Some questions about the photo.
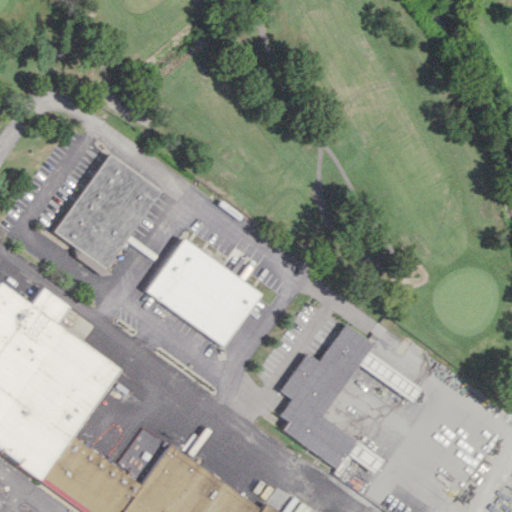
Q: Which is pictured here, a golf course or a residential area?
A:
golf course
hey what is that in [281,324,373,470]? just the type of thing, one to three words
building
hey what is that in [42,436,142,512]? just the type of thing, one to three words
building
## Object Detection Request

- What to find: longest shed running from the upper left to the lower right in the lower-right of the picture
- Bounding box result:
[362,352,425,403]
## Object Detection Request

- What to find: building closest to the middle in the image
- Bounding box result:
[146,241,262,347]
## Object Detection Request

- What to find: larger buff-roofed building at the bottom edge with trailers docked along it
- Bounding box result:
[124,446,270,512]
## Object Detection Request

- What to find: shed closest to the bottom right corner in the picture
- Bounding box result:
[350,443,384,474]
